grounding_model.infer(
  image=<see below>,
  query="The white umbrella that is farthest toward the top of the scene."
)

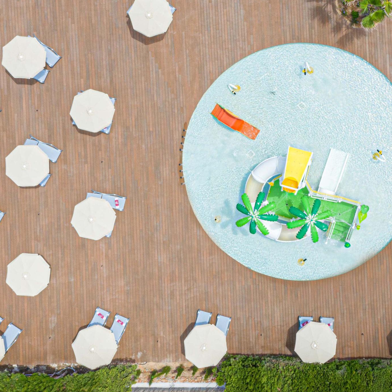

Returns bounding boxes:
[130,0,175,39]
